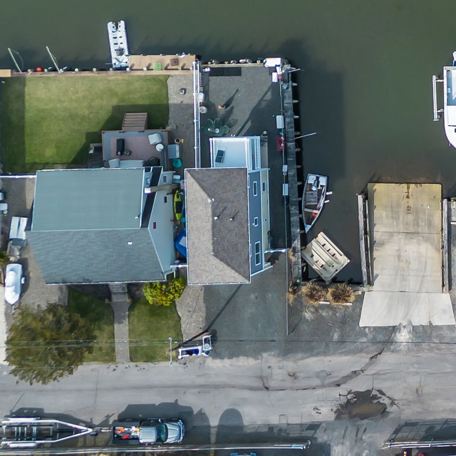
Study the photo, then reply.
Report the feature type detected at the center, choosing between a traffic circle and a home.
home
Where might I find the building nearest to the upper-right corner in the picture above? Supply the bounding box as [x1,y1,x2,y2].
[185,137,285,286]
